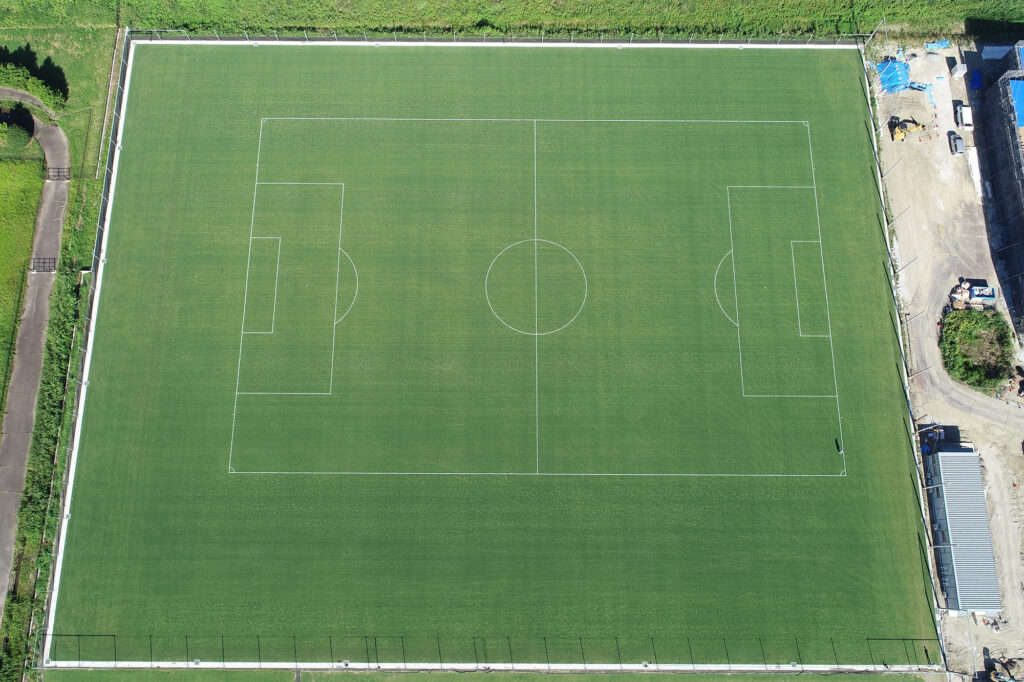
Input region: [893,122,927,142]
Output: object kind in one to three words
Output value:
work vehicle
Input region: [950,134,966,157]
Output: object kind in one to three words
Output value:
car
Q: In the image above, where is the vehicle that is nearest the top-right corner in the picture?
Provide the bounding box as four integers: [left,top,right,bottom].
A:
[956,103,974,131]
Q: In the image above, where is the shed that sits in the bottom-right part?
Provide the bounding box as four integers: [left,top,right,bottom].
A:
[928,452,1002,611]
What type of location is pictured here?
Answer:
sports ground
